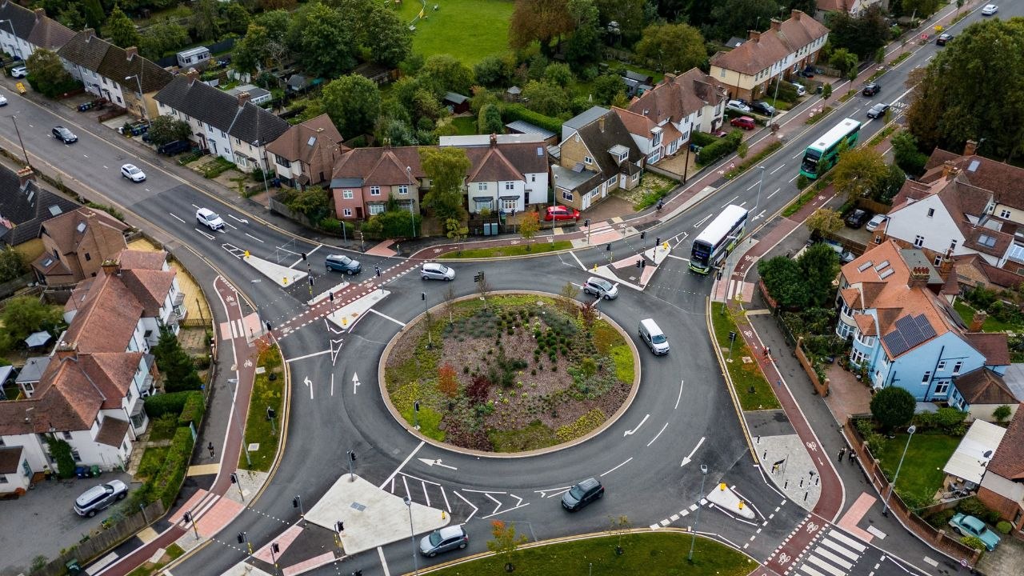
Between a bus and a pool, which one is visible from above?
bus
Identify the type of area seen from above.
residential area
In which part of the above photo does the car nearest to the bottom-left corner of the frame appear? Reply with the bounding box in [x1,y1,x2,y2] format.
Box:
[67,476,129,522]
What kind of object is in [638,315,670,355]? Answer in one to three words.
van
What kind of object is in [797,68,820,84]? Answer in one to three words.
car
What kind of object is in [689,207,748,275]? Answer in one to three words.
bus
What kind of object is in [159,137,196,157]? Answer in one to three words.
vehicle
